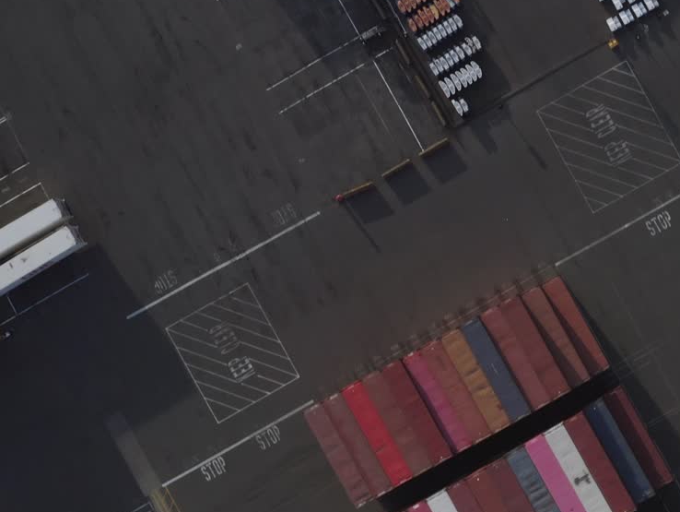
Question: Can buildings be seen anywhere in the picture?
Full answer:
No, I find no building anywhere in the image.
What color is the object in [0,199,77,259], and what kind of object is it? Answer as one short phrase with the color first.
white trailer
